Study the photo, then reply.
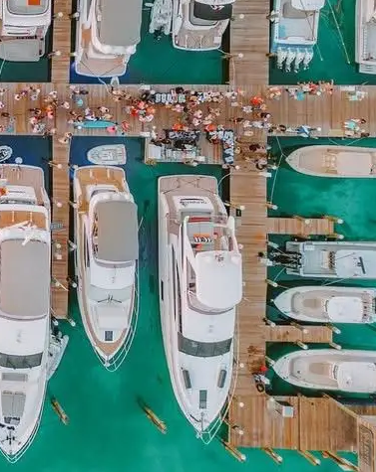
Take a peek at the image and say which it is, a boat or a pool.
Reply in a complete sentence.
There is a boat in the scene.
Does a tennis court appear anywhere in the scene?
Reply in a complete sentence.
No, there's no tennis court here.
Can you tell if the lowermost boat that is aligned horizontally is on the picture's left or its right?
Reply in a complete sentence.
The lowermost boat that is aligned horizontally sits on the right side.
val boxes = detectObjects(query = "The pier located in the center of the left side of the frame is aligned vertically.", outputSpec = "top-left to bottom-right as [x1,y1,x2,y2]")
[50,134,70,319]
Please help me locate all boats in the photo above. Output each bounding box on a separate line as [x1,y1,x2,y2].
[171,0,234,50]
[154,172,241,443]
[0,145,14,160]
[45,323,70,373]
[0,0,53,61]
[348,0,376,74]
[285,146,376,177]
[75,0,143,77]
[276,241,376,280]
[0,165,70,457]
[272,0,349,63]
[148,0,172,39]
[272,283,376,323]
[74,167,142,371]
[88,145,127,166]
[273,347,376,393]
